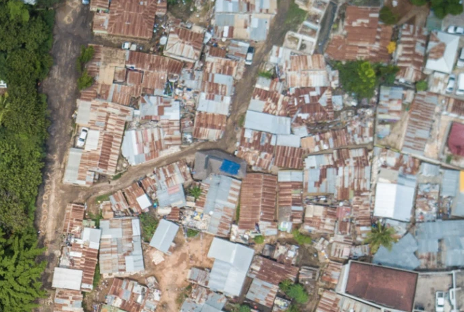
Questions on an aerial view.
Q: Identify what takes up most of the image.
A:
buildings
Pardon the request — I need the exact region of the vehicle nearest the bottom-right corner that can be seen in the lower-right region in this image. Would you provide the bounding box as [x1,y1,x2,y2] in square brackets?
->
[434,291,446,312]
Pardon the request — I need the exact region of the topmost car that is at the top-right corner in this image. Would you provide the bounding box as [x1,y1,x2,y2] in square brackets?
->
[446,23,464,36]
